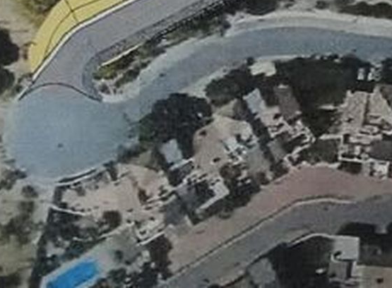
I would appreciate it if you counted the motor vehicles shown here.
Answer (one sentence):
Not a single motor vehicle can be seen.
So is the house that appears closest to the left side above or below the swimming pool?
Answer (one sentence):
Looking at the photo, you'll find the house that appears closest to the left side above the swimming pool.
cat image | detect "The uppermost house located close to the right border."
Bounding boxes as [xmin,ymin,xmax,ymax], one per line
[330,85,392,160]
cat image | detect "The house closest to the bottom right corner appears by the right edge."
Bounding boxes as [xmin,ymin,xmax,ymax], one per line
[330,236,392,288]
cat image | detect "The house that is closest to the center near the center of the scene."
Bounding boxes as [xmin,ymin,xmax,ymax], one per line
[161,99,267,207]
